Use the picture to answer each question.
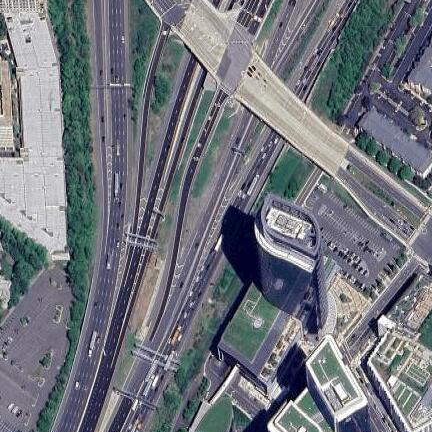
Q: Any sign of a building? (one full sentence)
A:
Yes, this view includes a building.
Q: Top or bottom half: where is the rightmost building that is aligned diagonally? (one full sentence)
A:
Seen from above, the rightmost building that is aligned diagonally lies in the top half of the view.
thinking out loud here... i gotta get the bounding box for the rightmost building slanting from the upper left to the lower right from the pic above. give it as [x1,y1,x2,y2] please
[359,108,432,179]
